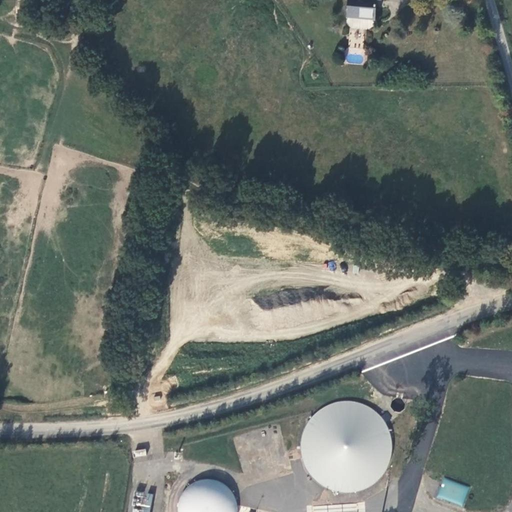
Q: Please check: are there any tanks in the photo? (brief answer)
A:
Yes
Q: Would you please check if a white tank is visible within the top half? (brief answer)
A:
No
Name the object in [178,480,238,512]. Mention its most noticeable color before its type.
white storage tank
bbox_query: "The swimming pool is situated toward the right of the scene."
[344,49,368,66]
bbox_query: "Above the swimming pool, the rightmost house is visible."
[347,0,377,30]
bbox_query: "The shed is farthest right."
[438,479,472,506]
